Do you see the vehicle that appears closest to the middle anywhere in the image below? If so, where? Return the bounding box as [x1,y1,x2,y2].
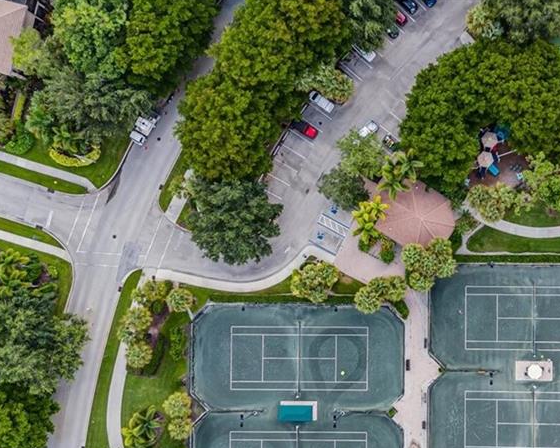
[290,119,318,140]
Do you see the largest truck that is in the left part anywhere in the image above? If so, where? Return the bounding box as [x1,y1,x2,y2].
[130,111,160,149]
